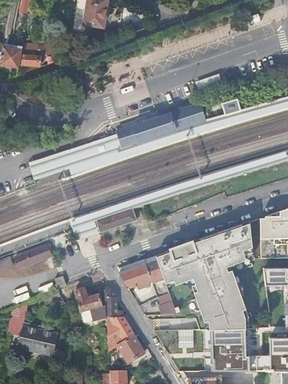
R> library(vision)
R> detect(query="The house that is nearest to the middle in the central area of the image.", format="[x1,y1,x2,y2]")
[98,209,136,232]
